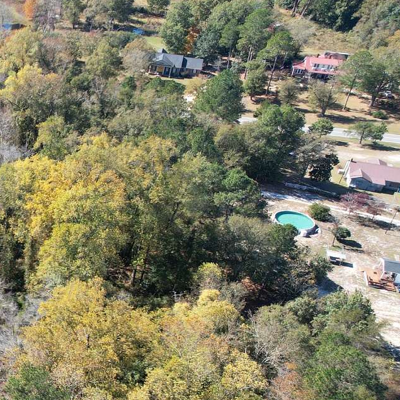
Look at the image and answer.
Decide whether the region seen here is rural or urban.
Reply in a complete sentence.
The land in this view is best described as rural.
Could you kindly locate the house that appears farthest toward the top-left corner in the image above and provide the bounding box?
[147,51,204,78]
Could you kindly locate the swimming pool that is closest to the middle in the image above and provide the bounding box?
[272,213,315,238]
